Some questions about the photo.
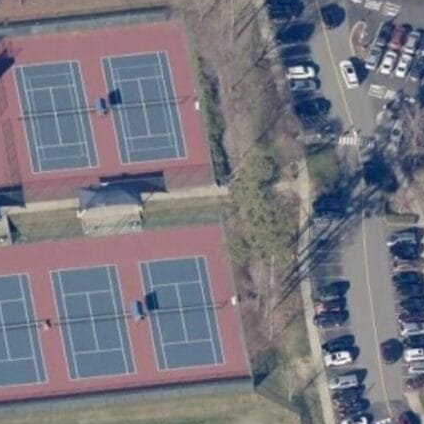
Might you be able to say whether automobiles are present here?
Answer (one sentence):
Yes, the frame does contain an automobile.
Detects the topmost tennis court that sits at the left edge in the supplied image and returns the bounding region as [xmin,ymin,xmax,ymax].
[14,60,99,173]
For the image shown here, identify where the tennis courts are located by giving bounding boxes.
[138,255,225,371]
[0,273,47,386]
[50,264,136,380]
[102,51,187,164]
[14,60,99,173]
